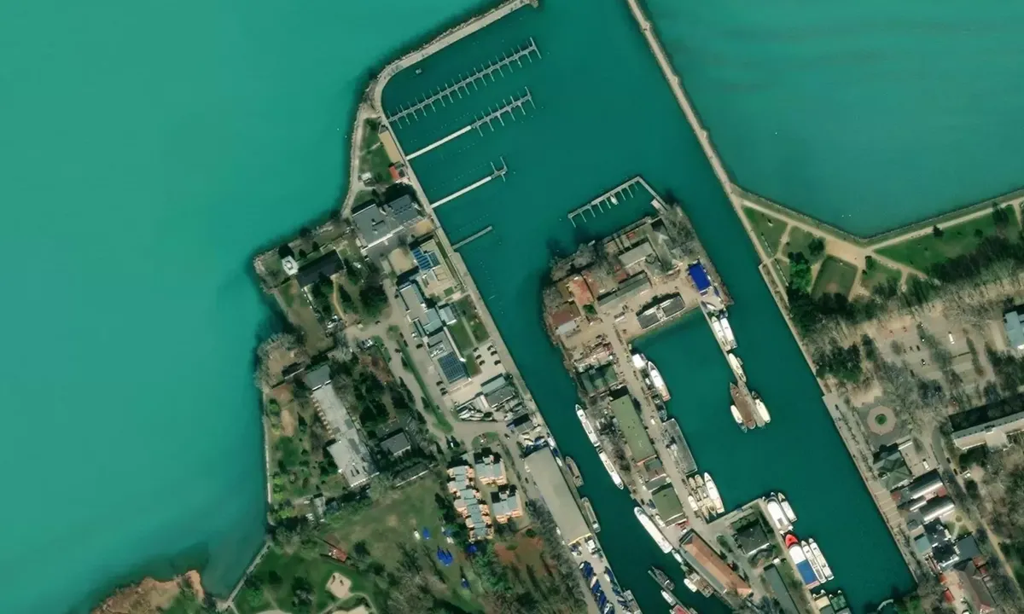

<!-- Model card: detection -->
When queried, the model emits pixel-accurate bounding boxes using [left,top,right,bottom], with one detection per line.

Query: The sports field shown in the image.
[812,255,858,300]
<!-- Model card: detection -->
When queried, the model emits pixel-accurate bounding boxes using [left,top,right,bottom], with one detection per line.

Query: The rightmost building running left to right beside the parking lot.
[952,412,1024,453]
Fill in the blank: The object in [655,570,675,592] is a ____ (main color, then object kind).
gray boat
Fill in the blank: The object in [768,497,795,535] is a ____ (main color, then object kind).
white boat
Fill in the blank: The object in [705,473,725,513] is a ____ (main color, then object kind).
white ship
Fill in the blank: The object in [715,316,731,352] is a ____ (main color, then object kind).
white ship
